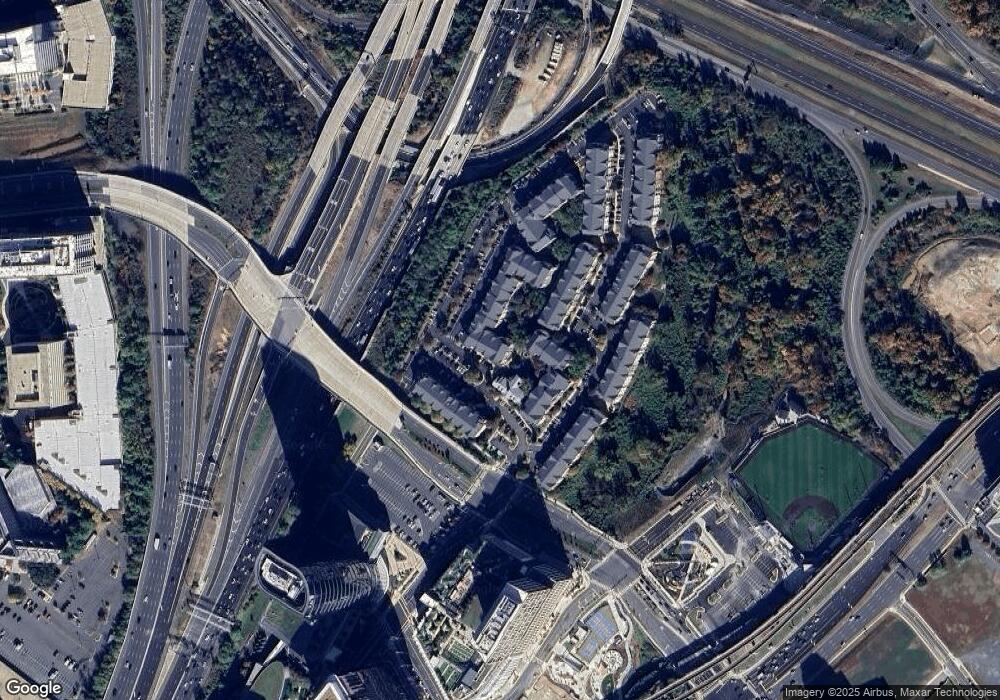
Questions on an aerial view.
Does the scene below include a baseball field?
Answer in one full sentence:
Yes, a baseball field appears in the view.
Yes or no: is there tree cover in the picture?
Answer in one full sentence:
Yes, there's tree cover in this view.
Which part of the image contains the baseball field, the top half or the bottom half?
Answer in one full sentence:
Seen from above, the baseball field lies in the bottom half of the view.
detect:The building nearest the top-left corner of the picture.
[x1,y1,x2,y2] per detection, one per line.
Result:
[0,23,62,74]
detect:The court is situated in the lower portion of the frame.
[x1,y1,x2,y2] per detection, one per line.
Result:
[574,603,618,663]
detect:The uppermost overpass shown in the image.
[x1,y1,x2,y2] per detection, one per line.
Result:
[542,0,636,134]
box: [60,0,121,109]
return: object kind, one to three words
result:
building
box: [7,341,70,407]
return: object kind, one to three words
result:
building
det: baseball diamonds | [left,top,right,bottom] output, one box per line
[731,420,888,552]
